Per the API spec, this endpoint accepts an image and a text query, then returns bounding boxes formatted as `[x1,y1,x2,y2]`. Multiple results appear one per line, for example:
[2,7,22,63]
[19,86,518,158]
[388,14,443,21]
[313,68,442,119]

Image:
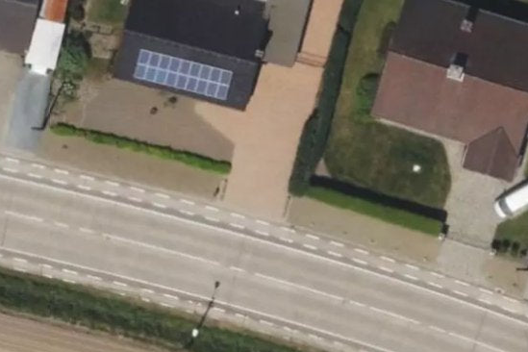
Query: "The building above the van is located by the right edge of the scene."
[372,0,528,184]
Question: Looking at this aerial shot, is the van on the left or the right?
right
